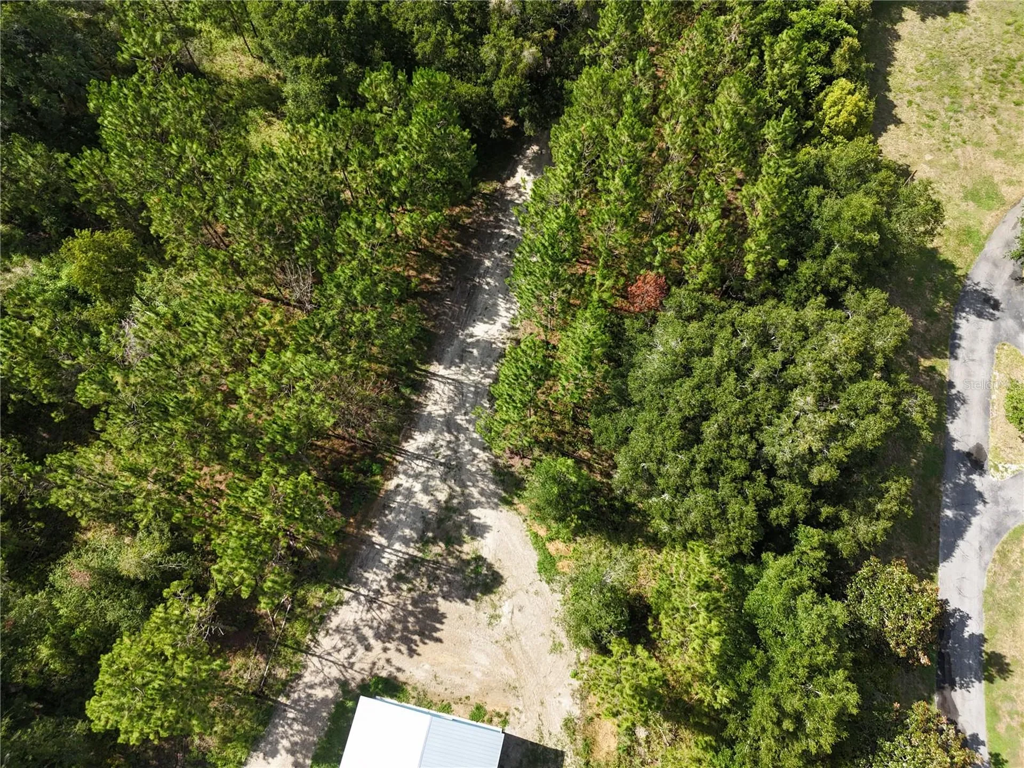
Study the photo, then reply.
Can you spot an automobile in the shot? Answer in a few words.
No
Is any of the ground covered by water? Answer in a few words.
No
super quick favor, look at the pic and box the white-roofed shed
[338,688,505,768]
